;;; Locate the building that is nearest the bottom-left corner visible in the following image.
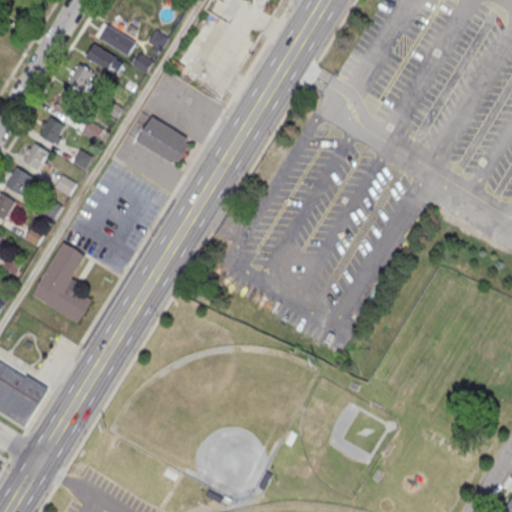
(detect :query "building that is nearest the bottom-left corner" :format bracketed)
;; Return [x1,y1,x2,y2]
[0,359,48,428]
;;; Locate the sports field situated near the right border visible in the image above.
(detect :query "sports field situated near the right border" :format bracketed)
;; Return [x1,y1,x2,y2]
[371,267,512,420]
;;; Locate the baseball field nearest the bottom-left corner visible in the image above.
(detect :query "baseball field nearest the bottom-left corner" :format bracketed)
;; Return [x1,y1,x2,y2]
[110,345,318,500]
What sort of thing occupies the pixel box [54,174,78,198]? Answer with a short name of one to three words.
building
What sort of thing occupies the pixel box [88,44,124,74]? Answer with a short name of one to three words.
house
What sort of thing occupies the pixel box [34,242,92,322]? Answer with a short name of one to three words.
building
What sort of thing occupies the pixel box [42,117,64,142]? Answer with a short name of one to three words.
house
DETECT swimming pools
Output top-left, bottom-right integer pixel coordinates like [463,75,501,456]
[158,2,176,25]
